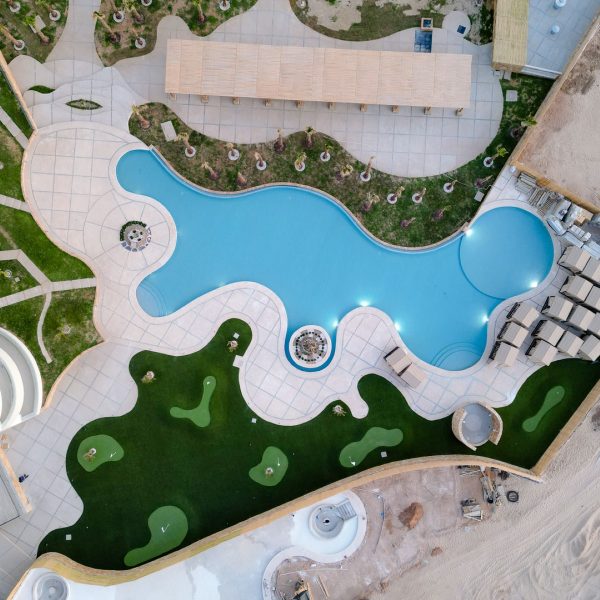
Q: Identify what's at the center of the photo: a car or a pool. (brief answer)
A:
pool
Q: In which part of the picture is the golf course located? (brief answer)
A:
bottom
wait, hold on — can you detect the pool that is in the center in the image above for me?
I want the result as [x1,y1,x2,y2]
[108,142,562,380]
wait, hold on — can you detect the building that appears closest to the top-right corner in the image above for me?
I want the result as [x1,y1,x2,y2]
[490,0,600,81]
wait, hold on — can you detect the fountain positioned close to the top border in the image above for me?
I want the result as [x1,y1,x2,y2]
[415,15,434,52]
